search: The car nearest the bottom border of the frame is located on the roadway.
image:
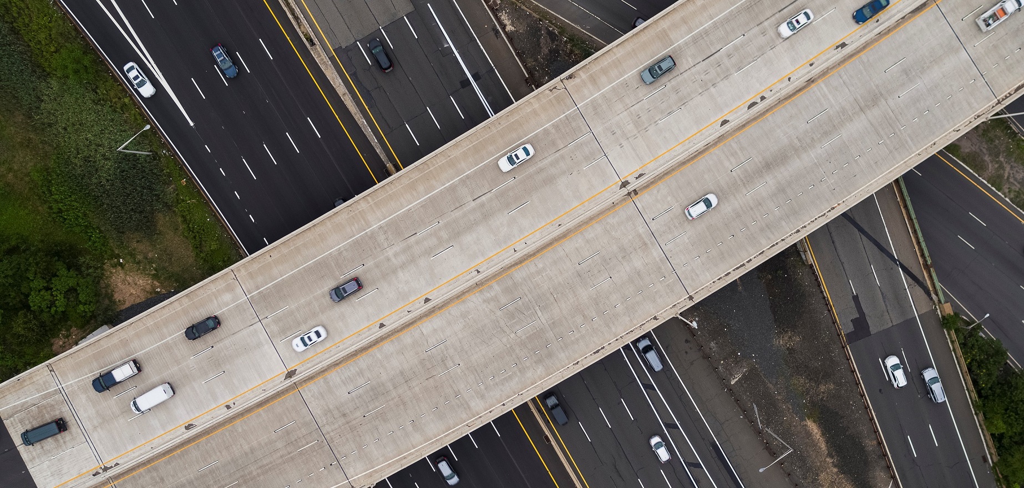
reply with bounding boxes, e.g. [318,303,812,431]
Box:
[434,454,460,487]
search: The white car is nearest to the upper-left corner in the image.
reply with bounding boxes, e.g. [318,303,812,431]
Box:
[123,62,156,99]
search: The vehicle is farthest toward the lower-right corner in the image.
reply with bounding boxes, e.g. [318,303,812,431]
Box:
[921,368,947,404]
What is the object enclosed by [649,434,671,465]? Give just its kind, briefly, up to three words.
car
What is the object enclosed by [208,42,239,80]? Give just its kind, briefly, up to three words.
car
